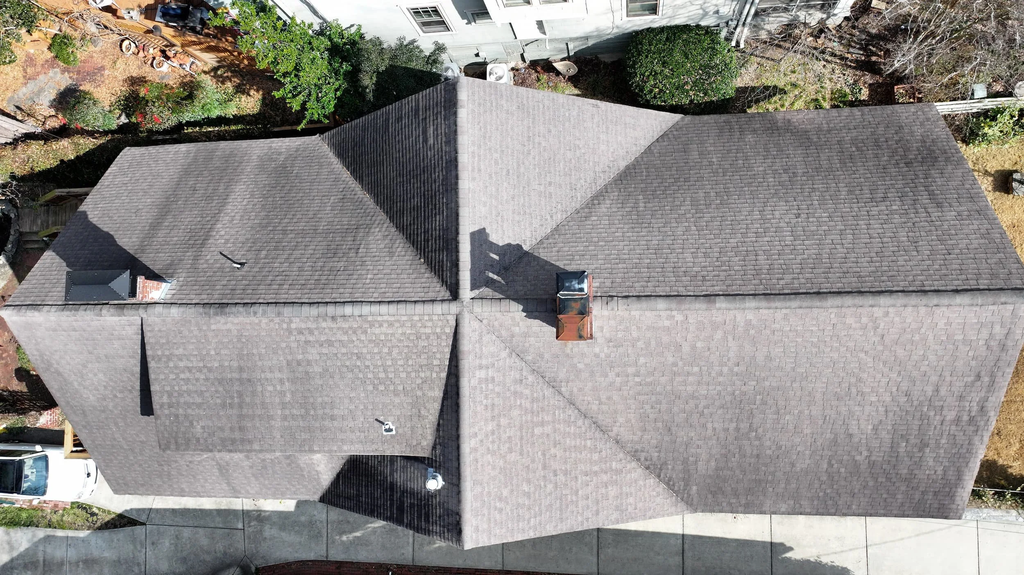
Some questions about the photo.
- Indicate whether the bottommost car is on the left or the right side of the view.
left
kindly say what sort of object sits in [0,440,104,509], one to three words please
car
